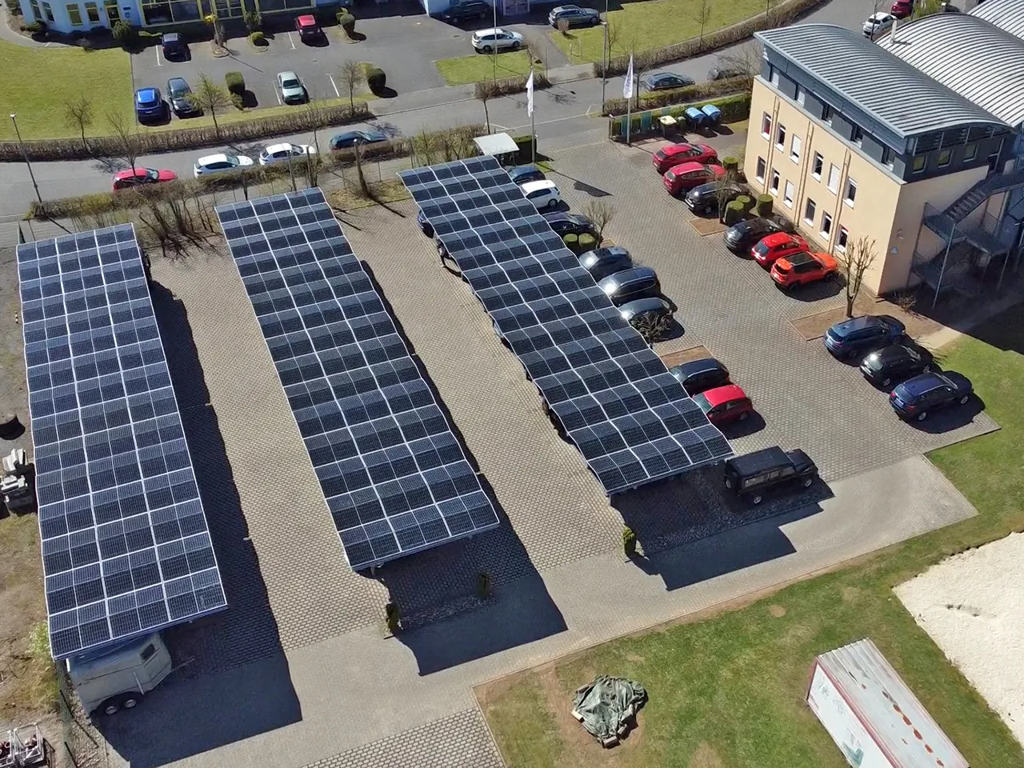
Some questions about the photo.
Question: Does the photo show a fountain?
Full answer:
No, the photo shows no fountain.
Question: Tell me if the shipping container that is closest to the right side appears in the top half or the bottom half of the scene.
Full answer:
Seen from above, the shipping container that is closest to the right side lies in the bottom half of the view.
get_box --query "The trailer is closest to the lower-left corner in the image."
[67,632,195,710]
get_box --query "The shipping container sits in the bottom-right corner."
[808,639,970,768]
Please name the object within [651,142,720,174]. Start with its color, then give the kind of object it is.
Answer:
red car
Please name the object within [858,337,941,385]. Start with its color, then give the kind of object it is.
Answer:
black car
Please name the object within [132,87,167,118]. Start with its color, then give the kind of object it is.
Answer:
blue car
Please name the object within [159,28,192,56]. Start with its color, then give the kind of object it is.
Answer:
black car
